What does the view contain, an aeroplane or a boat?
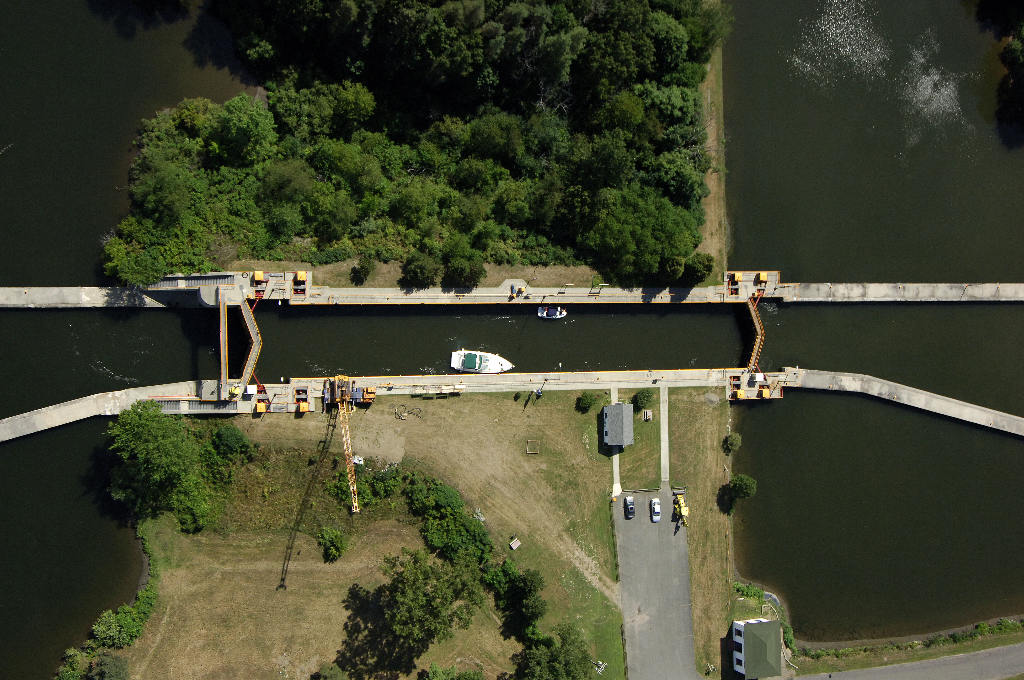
boat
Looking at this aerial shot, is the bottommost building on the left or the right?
right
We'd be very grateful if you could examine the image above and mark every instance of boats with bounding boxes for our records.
[536,307,566,319]
[449,349,512,374]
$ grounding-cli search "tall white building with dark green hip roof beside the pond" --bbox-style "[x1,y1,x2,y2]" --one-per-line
[733,615,781,680]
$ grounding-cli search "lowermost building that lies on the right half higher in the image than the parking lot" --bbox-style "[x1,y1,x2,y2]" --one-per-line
[604,401,636,448]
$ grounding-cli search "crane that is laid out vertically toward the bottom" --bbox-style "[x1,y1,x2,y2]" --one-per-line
[322,375,375,514]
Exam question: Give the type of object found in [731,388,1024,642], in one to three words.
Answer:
pond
